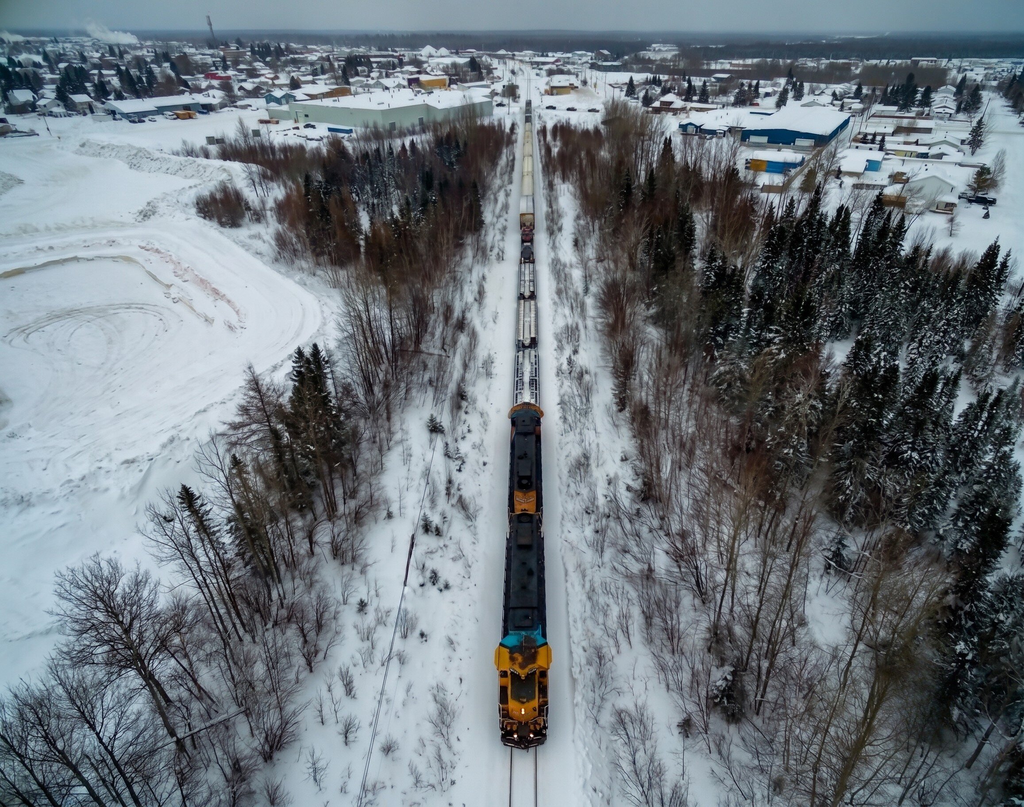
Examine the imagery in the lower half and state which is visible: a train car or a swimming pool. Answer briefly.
train car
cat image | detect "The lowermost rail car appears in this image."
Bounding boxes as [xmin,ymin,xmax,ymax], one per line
[497,519,553,761]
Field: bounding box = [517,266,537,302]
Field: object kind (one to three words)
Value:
rail car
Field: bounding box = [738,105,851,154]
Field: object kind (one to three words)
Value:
building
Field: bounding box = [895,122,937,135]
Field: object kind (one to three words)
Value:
building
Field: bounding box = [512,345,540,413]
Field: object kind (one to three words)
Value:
rail car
